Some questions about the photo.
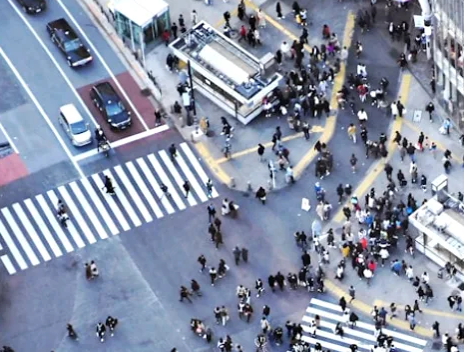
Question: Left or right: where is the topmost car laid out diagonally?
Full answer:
The topmost car laid out diagonally sits on the left side.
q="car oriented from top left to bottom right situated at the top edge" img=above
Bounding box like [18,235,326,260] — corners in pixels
[45,14,93,62]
